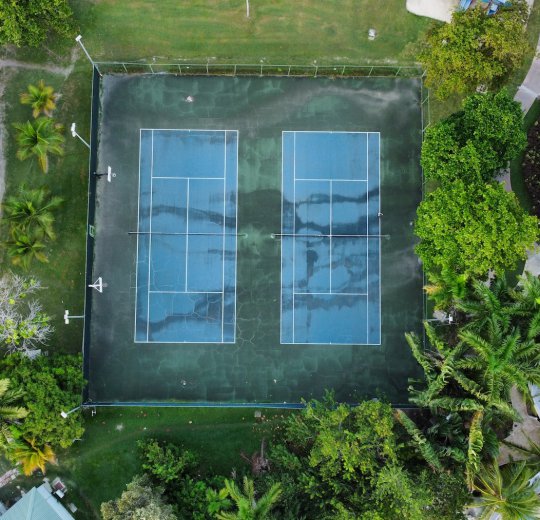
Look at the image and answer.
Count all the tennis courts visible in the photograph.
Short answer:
2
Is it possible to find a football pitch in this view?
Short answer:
No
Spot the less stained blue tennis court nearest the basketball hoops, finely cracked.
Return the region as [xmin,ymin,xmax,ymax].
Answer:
[134,129,238,343]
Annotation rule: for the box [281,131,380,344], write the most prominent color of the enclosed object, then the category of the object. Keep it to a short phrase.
blue tennis court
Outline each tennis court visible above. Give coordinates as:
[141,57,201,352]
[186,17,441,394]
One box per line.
[281,131,380,344]
[134,129,238,343]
